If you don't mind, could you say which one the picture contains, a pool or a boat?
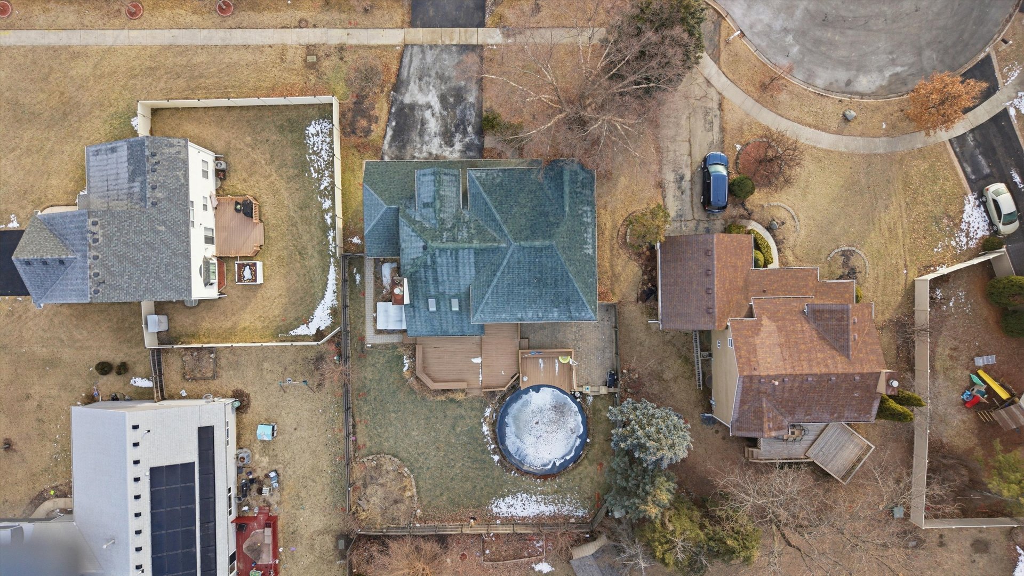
pool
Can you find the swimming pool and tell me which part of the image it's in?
bottom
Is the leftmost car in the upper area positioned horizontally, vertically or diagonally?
vertically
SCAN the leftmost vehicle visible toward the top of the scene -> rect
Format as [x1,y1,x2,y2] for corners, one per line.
[702,152,733,213]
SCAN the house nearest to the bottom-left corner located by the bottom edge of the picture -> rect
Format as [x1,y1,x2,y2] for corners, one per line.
[22,398,237,576]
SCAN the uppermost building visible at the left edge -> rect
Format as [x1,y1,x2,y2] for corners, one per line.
[12,136,227,303]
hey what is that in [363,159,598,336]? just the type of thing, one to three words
house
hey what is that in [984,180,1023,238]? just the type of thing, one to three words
car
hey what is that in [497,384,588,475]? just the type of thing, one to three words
swimming pool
